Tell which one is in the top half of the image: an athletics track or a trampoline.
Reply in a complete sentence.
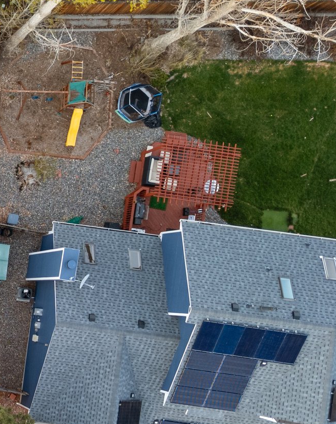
The feature located in the top half of the image is a trampoline.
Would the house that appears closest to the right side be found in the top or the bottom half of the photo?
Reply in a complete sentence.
The house that appears closest to the right side is in the bottom half of the image.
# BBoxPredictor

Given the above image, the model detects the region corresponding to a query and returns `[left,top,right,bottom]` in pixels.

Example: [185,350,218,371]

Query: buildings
[17,218,336,424]
[0,241,12,283]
